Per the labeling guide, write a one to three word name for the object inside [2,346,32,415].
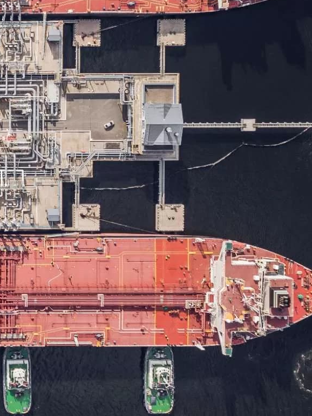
boat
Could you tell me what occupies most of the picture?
water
